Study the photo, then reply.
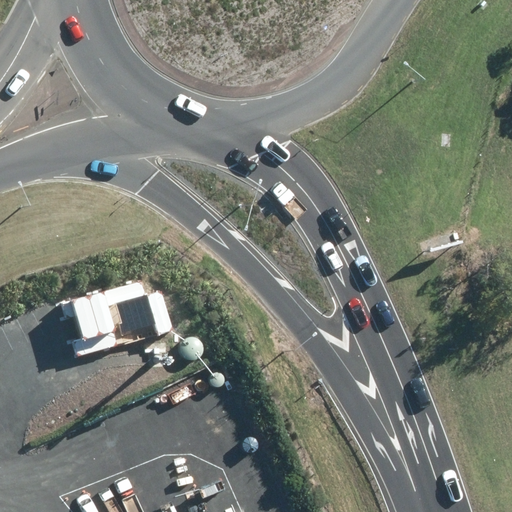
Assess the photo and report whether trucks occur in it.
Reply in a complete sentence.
Yes, the frame does contain a truck.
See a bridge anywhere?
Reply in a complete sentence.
No, there's no bridge here.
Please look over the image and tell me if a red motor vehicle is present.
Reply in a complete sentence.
Yes, there is a red motor vehicle in the image.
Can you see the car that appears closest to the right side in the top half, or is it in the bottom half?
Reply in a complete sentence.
The car that appears closest to the right side is in the bottom half of the image.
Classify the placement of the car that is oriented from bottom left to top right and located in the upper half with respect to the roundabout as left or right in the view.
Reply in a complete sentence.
In the image, the car that is oriented from bottom left to top right and located in the upper half sits on the left side of the roundabout.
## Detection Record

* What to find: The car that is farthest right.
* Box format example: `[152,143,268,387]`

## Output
[443,470,462,503]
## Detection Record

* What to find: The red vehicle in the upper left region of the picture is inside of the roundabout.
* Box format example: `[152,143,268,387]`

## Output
[66,15,84,42]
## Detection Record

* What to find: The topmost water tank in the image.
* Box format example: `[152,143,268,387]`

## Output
[176,336,203,362]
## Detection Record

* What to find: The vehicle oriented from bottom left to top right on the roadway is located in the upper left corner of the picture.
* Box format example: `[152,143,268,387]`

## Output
[5,67,29,98]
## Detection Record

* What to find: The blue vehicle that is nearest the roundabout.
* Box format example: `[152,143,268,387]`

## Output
[90,160,118,176]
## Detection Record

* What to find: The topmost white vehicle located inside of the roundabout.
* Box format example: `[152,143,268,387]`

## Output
[174,94,207,117]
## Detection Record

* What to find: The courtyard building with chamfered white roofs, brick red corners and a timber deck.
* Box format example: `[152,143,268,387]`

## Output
[56,280,172,358]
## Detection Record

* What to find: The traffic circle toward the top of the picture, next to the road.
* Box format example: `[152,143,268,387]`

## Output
[46,0,417,168]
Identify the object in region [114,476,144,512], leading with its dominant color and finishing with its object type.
white truck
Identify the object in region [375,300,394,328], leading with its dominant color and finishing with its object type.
blue car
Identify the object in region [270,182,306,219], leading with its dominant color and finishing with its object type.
white truck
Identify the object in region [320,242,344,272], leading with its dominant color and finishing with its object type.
white car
